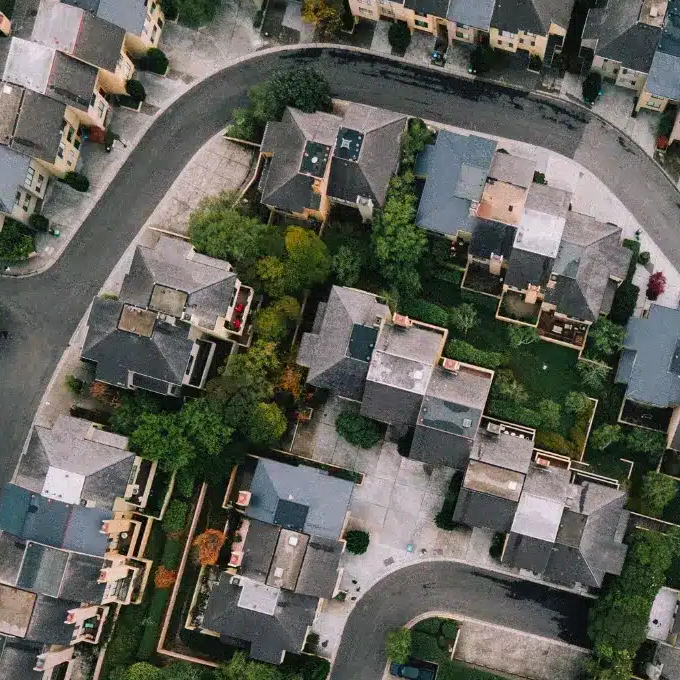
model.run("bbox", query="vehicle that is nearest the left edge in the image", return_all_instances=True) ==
[389,660,435,680]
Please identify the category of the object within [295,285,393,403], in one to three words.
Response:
house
